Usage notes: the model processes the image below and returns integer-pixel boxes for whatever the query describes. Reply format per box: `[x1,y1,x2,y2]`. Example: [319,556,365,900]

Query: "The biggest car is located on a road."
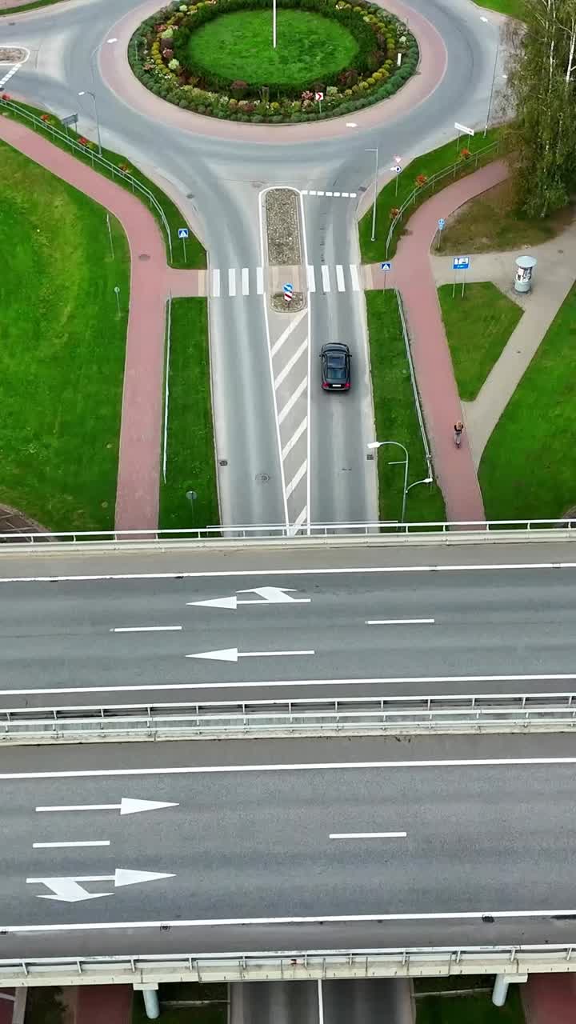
[319,339,352,390]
